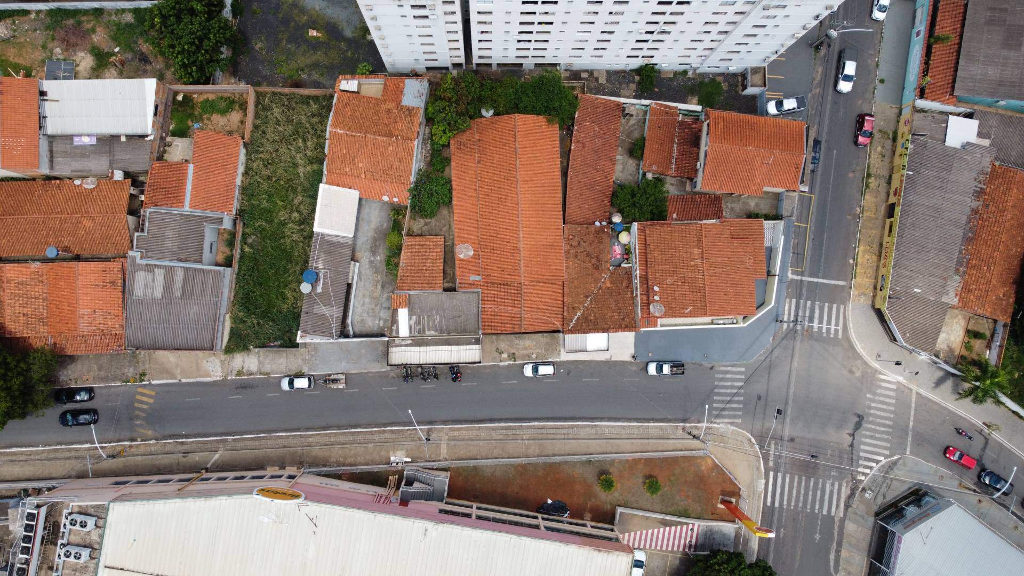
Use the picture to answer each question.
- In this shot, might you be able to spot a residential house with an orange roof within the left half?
Yes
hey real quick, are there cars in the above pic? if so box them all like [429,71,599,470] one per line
[835,48,854,94]
[631,548,646,576]
[811,140,822,170]
[869,0,887,26]
[855,114,872,147]
[56,387,96,403]
[524,362,555,377]
[1015,493,1024,509]
[647,361,683,376]
[282,375,315,391]
[942,445,976,469]
[977,469,1012,495]
[765,97,805,114]
[61,409,100,425]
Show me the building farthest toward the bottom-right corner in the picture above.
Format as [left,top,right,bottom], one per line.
[852,488,1024,576]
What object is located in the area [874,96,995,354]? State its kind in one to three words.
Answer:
building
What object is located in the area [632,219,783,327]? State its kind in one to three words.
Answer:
house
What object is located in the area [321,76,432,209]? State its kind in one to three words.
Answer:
house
